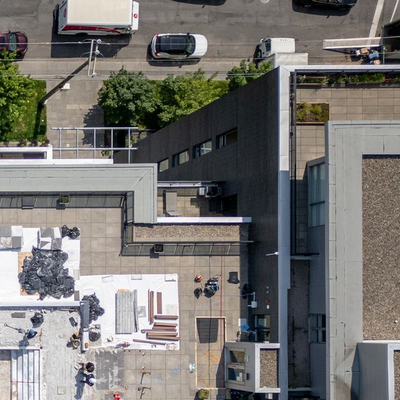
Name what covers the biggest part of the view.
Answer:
buildings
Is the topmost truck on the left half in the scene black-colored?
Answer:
No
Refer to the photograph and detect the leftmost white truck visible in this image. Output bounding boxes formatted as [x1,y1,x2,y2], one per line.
[51,0,135,35]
